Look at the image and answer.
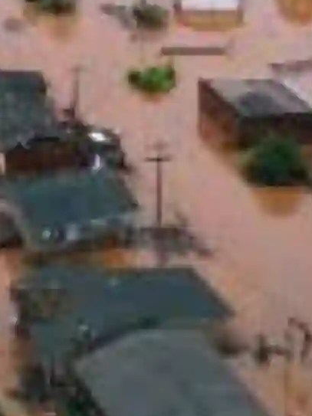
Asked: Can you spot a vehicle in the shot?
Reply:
No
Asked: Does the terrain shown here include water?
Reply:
Yes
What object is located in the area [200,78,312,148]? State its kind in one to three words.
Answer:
building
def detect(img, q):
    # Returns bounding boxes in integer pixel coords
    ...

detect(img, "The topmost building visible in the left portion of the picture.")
[0,67,84,182]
